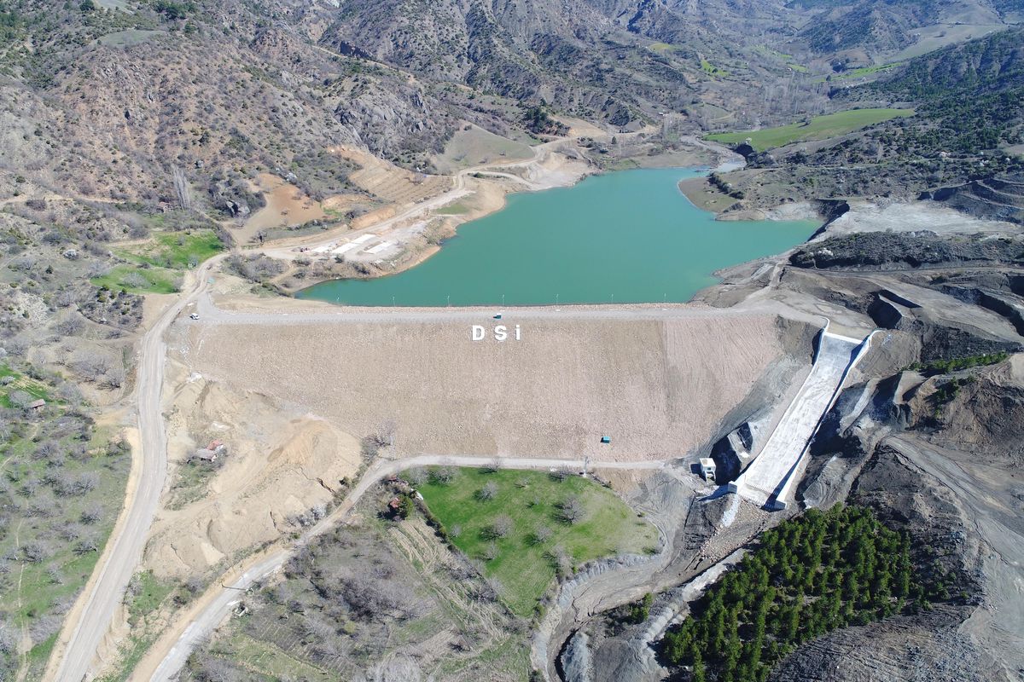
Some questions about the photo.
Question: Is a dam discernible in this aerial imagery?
Yes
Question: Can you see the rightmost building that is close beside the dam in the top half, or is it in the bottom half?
bottom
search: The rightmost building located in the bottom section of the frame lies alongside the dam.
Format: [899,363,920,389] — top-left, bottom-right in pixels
[699,455,720,484]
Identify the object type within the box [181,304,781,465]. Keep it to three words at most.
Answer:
dam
